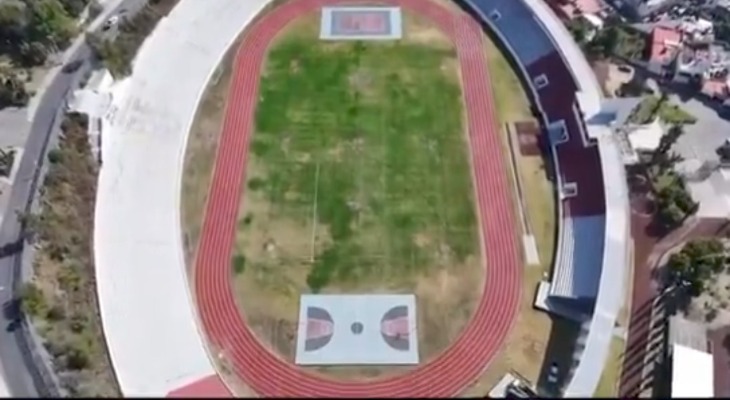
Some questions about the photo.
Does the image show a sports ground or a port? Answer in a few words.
sports ground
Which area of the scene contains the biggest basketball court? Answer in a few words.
bottom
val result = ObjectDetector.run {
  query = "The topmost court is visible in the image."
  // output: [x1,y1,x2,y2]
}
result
[320,6,402,40]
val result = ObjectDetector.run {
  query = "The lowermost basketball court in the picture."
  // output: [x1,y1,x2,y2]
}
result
[296,293,418,364]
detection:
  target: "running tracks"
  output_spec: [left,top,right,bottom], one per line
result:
[195,0,521,400]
